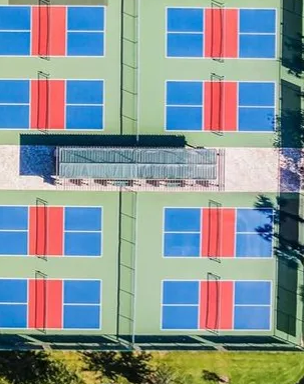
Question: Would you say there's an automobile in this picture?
No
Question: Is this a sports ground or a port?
sports ground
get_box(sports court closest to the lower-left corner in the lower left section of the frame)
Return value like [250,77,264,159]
[0,278,102,330]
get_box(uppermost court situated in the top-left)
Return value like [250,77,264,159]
[0,5,106,58]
